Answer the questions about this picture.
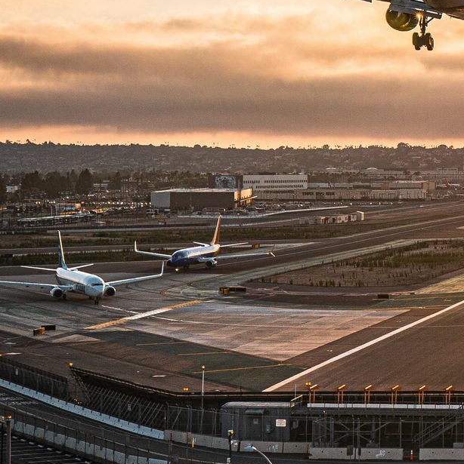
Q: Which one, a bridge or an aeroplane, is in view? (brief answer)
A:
aeroplane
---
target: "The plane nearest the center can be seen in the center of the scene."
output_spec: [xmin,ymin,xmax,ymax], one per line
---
[142,216,274,269]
